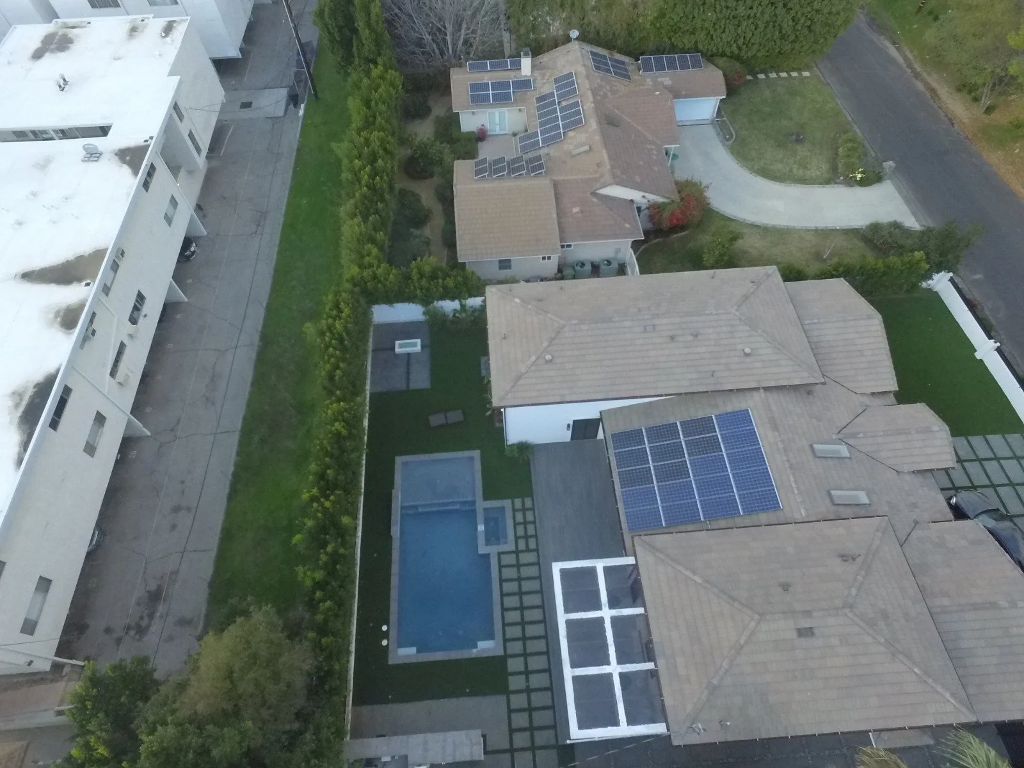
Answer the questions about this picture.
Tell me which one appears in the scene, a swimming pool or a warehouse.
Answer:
swimming pool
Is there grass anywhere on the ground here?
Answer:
Yes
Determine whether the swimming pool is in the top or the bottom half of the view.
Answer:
bottom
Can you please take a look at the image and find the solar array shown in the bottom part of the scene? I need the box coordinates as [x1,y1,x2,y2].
[611,410,783,531]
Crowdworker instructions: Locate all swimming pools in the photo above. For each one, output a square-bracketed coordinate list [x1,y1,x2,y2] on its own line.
[387,449,515,664]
